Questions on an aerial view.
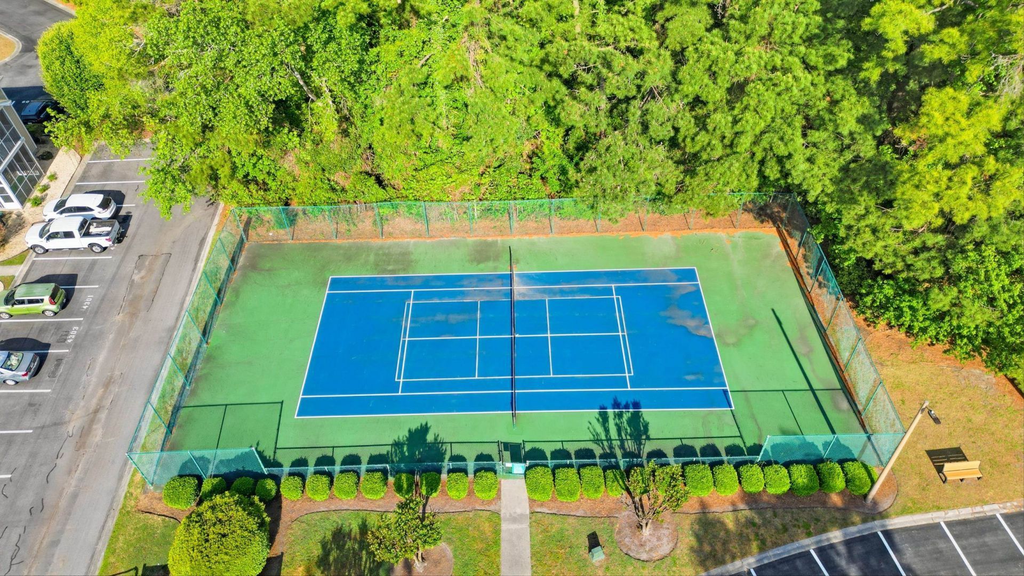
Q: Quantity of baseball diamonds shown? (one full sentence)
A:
The count of baseball diamonds is 0.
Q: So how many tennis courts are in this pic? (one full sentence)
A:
I count 1 tennis court.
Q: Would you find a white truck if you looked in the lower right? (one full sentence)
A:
No, no white truck is visible in the lower right.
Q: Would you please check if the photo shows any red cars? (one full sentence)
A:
No, there isn't any red car down there.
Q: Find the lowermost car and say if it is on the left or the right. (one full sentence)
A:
The lowermost car is on the left side of the image.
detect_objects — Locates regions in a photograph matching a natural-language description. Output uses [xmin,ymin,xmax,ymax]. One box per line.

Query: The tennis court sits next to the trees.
[152,232,881,485]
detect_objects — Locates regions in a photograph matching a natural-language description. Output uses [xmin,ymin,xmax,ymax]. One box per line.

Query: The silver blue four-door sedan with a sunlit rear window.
[0,350,40,386]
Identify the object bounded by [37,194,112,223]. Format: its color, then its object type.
white car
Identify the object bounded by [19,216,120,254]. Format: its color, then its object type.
white truck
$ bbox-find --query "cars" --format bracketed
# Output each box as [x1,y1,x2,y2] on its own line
[0,350,40,386]
[19,97,58,130]
[37,194,112,223]
[0,280,68,318]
